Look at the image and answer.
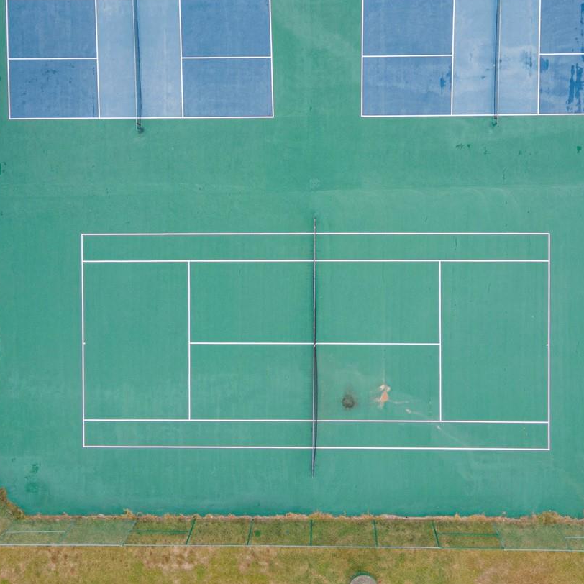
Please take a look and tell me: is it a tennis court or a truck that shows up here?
tennis court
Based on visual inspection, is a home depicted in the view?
No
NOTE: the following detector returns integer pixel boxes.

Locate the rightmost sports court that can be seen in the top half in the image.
[362,0,584,117]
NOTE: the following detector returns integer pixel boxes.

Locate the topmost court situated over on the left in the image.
[6,0,274,119]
